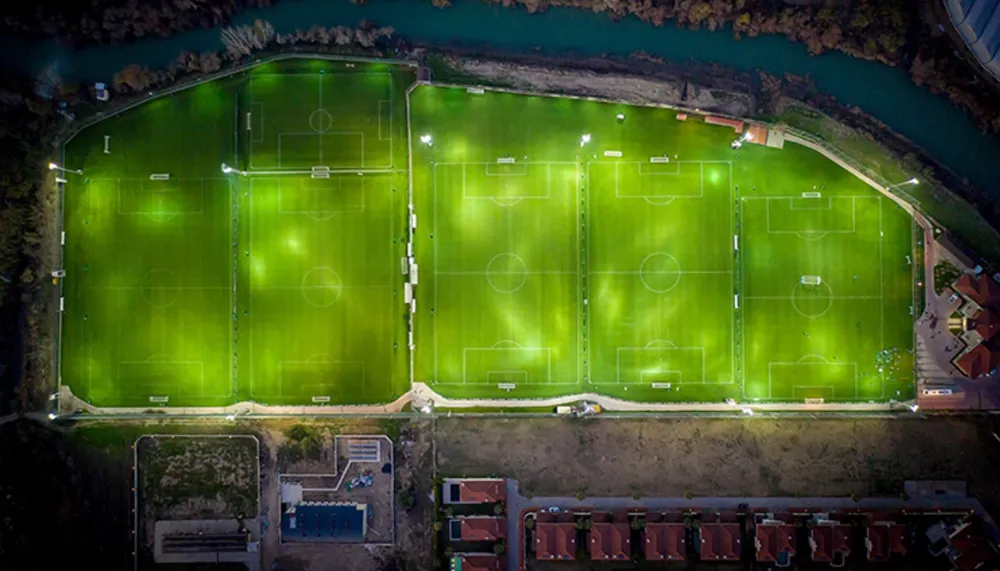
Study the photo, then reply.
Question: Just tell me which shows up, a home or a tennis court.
home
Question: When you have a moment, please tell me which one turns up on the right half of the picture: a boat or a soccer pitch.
soccer pitch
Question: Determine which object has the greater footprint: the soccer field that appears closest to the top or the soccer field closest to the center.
the soccer field closest to the center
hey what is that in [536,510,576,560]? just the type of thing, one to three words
house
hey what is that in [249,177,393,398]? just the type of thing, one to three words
soccer field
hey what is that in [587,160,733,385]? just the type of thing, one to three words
soccer field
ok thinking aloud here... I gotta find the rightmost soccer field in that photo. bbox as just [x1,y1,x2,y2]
[740,195,884,399]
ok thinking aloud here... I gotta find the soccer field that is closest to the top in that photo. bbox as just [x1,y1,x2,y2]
[249,72,392,169]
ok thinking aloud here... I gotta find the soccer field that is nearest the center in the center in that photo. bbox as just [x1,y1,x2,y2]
[434,162,580,385]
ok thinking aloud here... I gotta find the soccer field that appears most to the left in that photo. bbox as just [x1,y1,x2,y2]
[88,177,231,397]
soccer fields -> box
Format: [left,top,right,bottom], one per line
[434,162,580,385]
[249,177,393,398]
[249,72,392,169]
[587,160,733,385]
[88,177,231,397]
[740,195,884,399]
